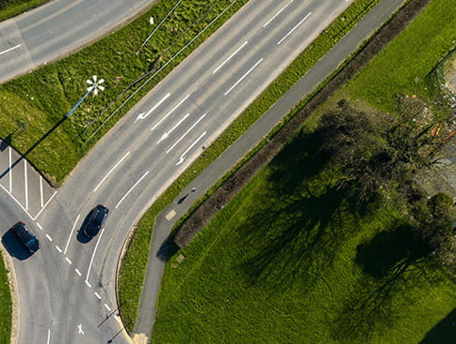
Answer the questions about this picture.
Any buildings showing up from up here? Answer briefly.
No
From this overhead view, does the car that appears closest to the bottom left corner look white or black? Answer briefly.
black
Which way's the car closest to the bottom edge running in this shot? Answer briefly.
on a diagonal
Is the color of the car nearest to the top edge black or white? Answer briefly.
black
